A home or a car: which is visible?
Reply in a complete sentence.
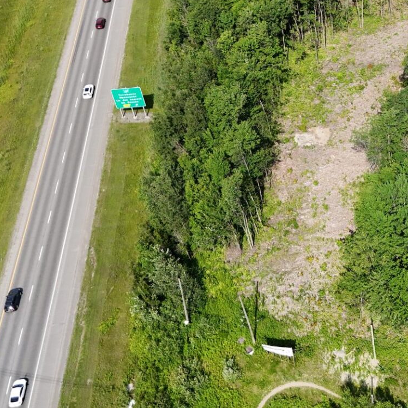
Visible in the photo is a car.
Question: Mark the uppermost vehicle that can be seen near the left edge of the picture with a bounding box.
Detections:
[3,286,22,312]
